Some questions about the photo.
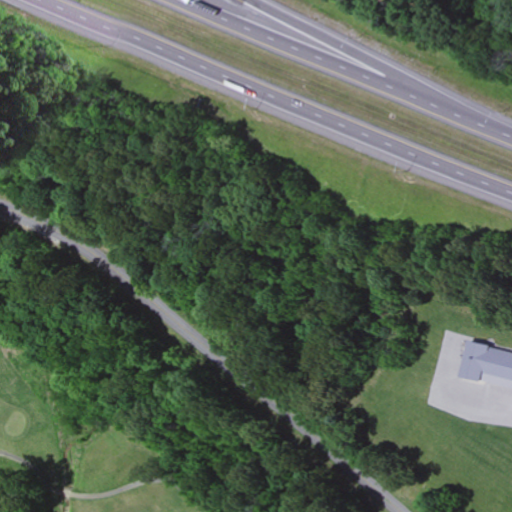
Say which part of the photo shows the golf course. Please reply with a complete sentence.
The golf course is in the bottom left part of the image.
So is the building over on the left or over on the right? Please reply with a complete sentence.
The building sits on the right side.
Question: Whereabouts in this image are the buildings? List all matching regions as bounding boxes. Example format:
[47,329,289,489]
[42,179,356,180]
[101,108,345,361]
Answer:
[458,341,512,382]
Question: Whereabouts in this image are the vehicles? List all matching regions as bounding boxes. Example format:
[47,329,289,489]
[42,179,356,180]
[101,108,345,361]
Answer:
[184,0,220,14]
[221,79,254,98]
[292,100,302,106]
